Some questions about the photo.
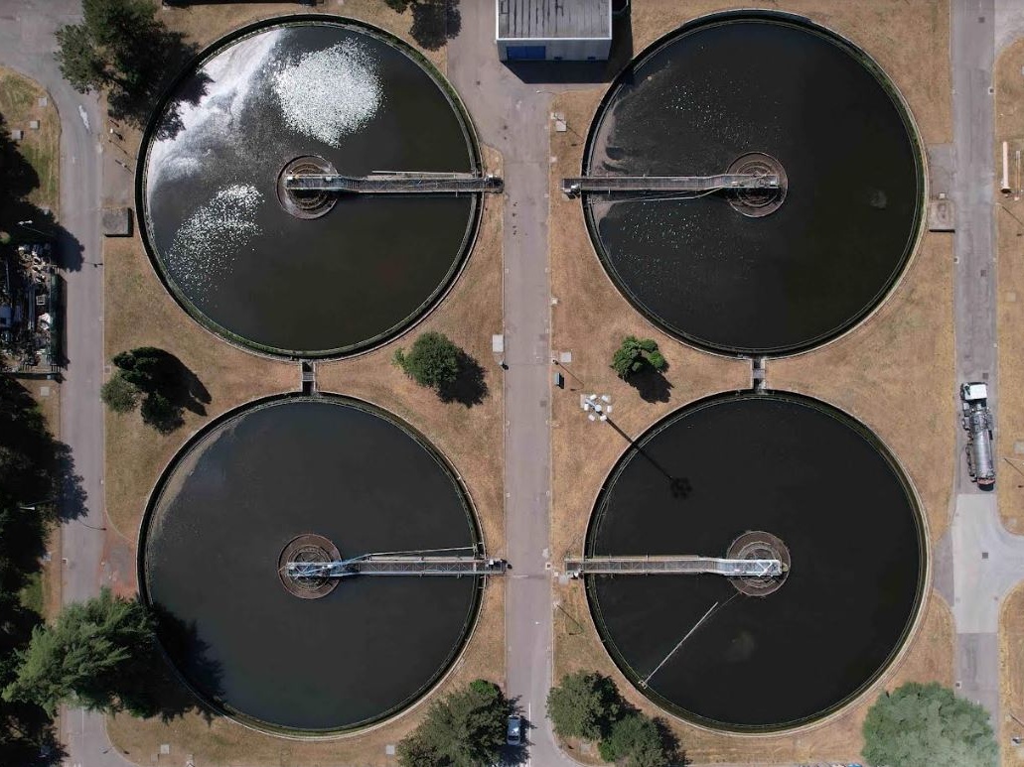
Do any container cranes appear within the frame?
No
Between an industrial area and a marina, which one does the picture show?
industrial area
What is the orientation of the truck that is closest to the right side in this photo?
from top to bottom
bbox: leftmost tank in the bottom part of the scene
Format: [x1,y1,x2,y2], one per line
[136,389,486,739]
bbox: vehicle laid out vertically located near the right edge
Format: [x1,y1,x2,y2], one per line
[960,383,997,487]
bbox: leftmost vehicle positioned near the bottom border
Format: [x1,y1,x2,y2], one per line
[506,716,521,747]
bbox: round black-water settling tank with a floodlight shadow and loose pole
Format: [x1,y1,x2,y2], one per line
[584,389,933,738]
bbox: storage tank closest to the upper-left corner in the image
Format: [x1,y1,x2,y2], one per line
[135,12,484,362]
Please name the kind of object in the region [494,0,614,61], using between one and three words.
shed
